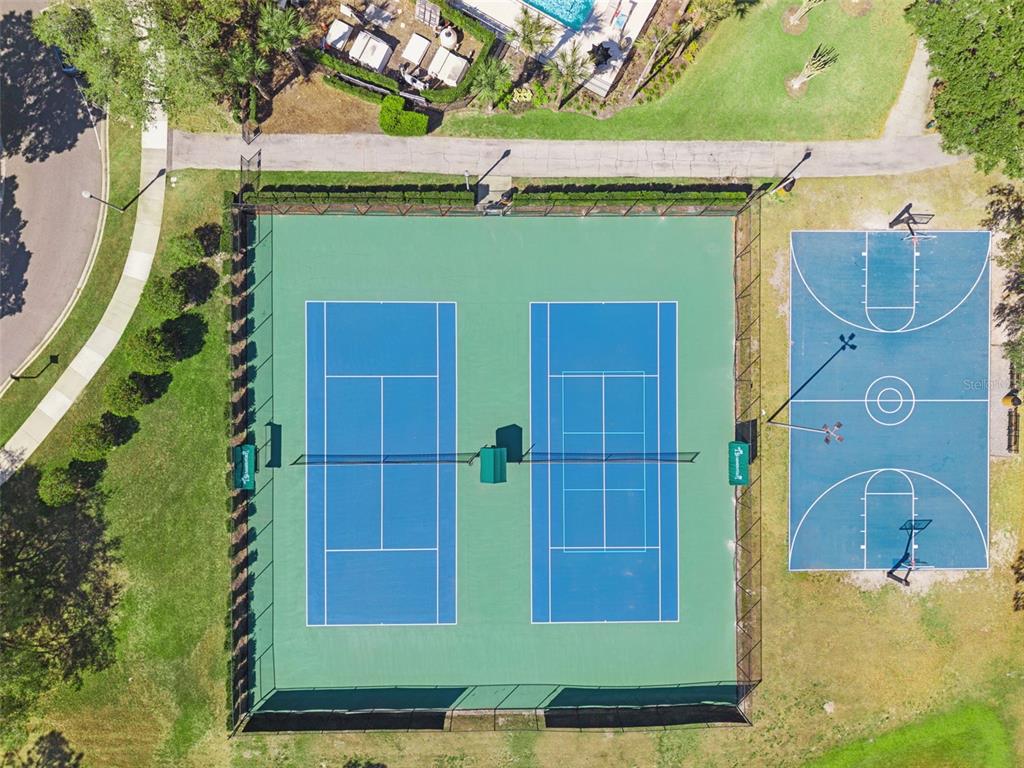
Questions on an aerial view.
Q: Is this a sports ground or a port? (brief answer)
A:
sports ground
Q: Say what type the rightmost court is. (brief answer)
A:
basketball court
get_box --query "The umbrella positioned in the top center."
[589,43,611,65]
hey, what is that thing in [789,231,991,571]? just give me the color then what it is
blue basketball court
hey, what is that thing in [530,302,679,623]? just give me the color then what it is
blue tennis court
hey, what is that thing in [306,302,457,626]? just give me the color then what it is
blue tennis court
